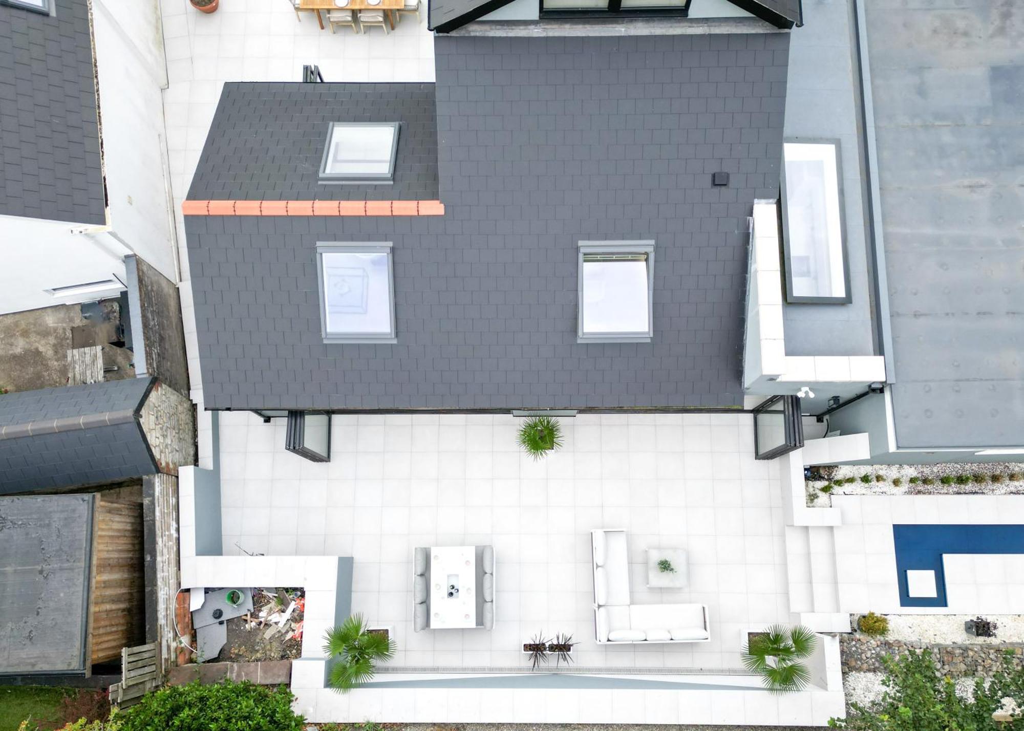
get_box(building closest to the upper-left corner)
[0,0,180,315]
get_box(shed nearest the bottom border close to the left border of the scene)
[0,493,149,677]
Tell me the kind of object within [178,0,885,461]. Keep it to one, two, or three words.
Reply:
house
